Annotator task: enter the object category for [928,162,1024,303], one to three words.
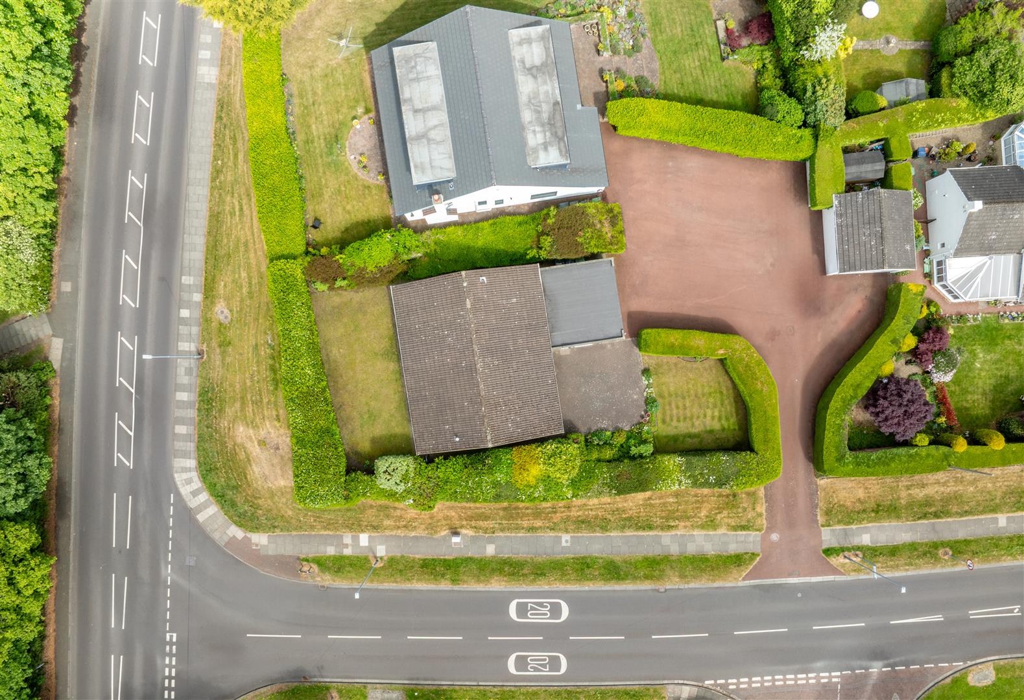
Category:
house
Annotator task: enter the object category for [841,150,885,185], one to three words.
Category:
shed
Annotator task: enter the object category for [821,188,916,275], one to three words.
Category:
building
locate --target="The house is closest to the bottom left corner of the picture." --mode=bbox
[390,264,565,455]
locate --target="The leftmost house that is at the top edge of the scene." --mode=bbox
[369,6,609,225]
